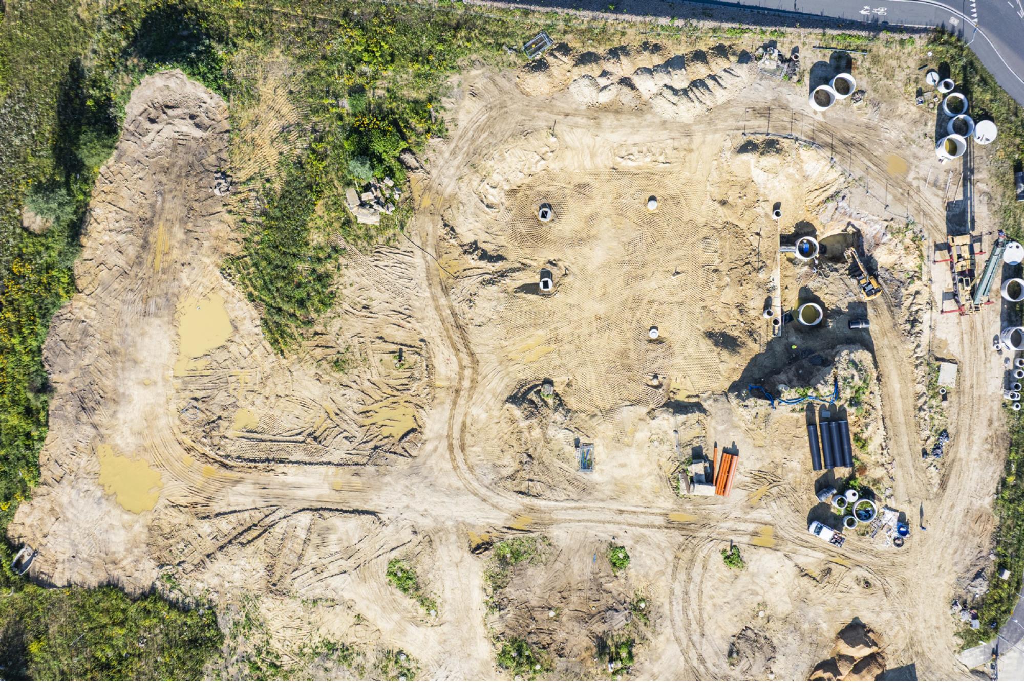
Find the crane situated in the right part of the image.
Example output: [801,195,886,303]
[934,231,1006,310]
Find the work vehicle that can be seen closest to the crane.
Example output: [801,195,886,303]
[842,245,884,304]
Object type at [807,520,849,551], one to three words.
truck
